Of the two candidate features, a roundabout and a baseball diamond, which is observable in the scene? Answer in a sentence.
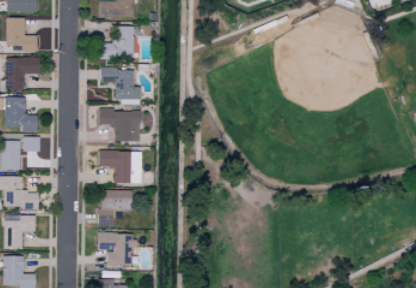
Of the two, only a baseball diamond appears.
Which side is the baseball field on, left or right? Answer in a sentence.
The baseball field appears in the right half of the scene.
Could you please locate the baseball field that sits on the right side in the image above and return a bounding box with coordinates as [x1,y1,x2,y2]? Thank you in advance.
[200,10,414,192]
